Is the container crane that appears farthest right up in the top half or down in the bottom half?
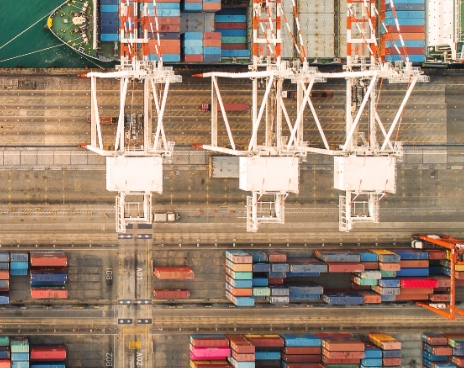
bottom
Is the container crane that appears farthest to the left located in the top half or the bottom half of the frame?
top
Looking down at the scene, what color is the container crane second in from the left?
white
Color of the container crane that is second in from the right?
white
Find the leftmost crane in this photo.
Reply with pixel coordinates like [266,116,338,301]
[73,0,187,235]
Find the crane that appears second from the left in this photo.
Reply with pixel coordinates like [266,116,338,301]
[189,0,329,235]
